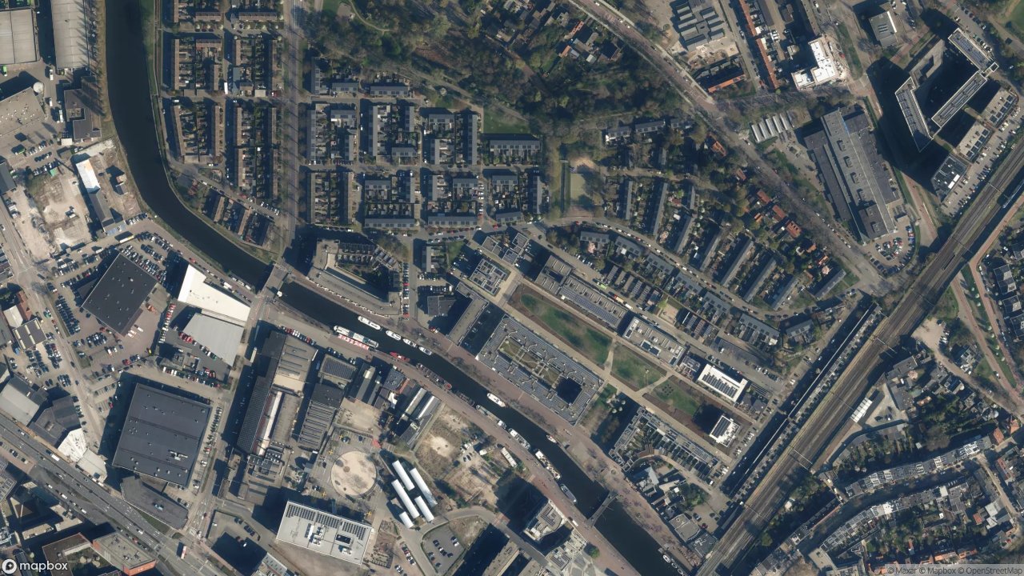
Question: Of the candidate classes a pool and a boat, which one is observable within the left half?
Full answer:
You can see a boat within the left half.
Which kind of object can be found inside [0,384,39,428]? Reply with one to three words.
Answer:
building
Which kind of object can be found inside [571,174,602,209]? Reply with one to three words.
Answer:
sports field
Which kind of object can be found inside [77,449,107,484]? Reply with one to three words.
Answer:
shed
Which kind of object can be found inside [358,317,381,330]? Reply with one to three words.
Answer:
boat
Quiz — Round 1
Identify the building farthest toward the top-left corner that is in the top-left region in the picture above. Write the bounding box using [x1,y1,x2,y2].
[0,8,38,66]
